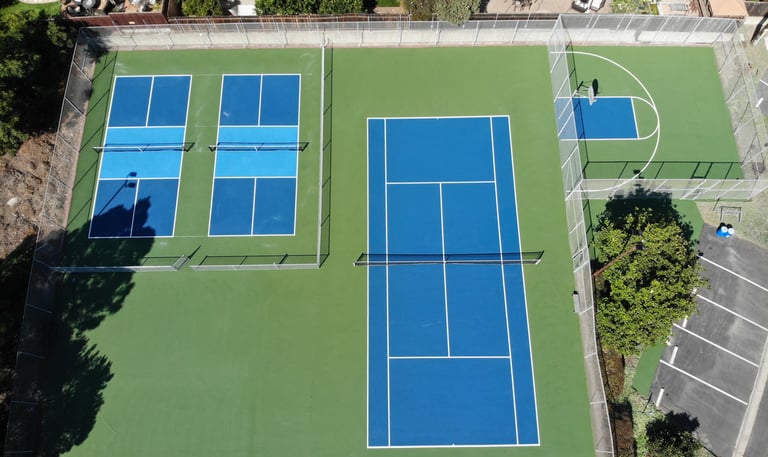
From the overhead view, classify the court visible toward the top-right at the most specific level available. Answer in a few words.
basketball court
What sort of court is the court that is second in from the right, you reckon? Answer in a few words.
tennis court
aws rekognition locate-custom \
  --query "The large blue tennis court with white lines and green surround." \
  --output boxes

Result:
[367,116,540,448]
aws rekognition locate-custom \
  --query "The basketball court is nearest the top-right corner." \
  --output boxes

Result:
[549,51,659,191]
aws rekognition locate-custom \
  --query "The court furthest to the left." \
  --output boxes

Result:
[88,75,192,238]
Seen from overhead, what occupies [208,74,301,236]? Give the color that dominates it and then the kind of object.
blue sports court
